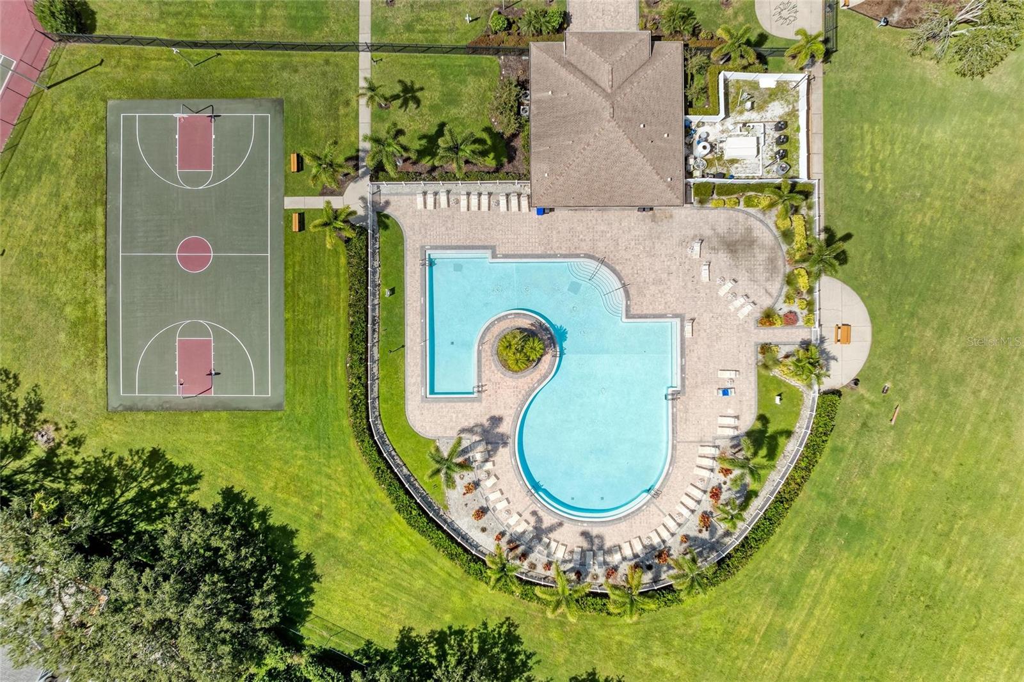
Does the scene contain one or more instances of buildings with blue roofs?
No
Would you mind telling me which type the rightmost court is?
basketball court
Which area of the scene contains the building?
top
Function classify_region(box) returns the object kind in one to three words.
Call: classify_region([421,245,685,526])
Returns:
swimming pool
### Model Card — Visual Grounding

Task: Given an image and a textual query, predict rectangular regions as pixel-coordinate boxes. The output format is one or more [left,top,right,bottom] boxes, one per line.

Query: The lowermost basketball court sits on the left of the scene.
[107,98,284,411]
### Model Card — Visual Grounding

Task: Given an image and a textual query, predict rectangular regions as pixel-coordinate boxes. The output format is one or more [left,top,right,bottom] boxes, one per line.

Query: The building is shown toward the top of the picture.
[530,30,684,207]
